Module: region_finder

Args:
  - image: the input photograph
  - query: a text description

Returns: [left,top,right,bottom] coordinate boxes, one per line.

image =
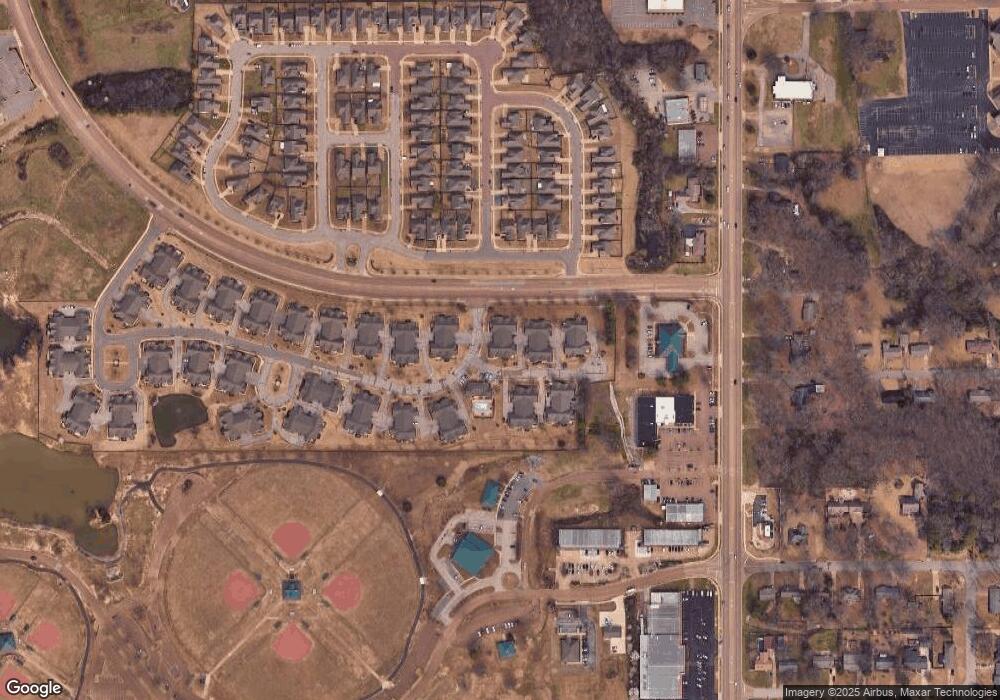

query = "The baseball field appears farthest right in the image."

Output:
[313,520,418,661]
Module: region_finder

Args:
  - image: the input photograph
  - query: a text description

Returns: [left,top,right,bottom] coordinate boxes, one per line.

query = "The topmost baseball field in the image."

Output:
[222,465,362,569]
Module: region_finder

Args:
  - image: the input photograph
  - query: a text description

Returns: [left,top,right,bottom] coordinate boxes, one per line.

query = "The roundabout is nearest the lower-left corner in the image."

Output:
[95,334,139,393]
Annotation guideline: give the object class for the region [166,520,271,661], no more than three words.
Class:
baseball field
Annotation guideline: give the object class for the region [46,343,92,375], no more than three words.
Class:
building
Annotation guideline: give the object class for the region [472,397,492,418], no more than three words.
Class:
swimming pool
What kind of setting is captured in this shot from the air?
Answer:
residential area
